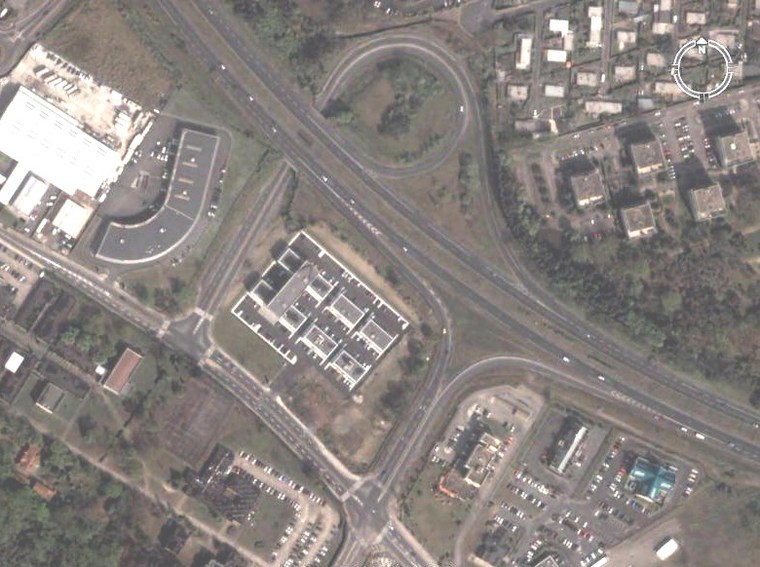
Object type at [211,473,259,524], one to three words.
building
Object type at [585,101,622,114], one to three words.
house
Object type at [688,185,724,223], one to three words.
building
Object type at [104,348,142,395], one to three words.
house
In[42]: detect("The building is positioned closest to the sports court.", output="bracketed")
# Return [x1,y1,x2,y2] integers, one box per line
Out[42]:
[195,444,229,491]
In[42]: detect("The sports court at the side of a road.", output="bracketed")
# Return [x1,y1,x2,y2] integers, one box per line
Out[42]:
[165,383,235,459]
